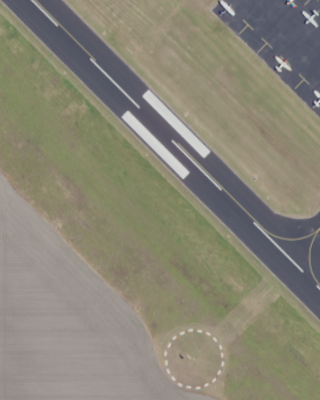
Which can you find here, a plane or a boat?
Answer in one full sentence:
Looking from above, you can make out a plane.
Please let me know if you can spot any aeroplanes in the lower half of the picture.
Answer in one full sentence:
No, in the lower half of the picture there is no aeroplane.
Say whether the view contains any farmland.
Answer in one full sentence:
Yes, there is farmland in the image.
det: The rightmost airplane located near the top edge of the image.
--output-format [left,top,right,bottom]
[302,10,320,27]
